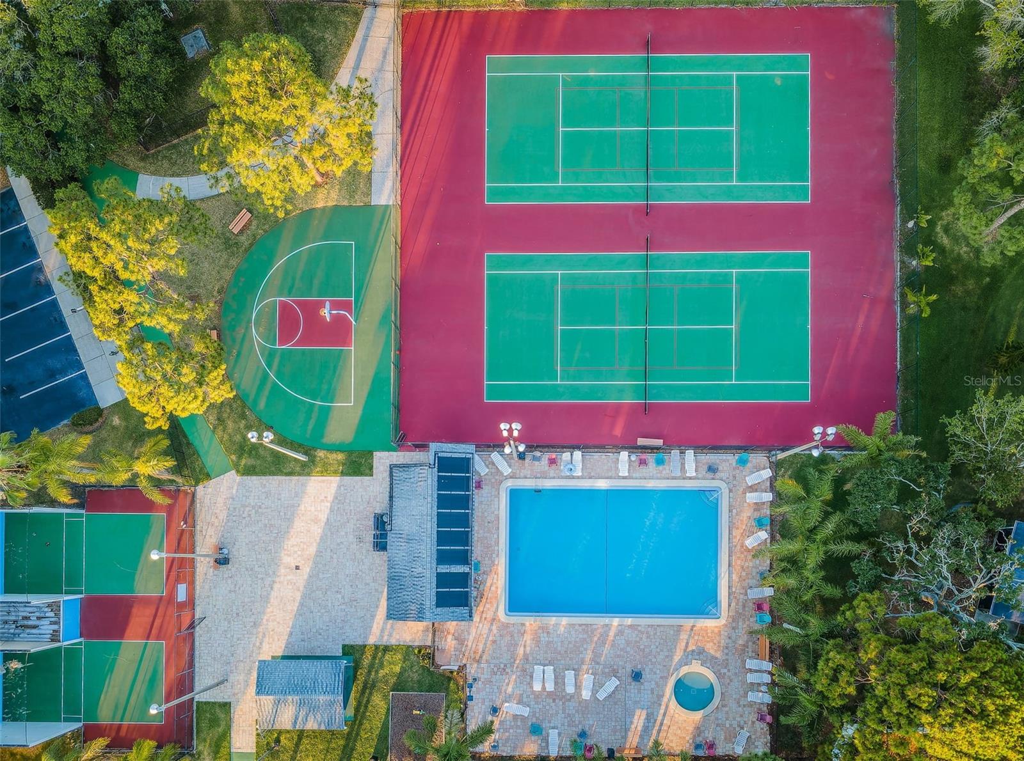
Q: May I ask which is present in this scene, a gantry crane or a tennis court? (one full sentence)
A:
The image shows a tennis court.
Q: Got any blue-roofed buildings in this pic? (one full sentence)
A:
Yes, the picture does show a blue-roofed building.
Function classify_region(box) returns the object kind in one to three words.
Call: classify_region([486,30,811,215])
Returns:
tennis court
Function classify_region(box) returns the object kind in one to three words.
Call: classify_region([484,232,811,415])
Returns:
tennis court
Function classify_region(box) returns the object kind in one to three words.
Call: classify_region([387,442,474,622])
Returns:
building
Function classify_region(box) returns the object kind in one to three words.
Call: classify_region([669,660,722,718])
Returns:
swimming pool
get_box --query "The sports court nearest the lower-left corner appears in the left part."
[0,638,164,749]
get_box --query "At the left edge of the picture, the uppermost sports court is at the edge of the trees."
[0,504,165,604]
